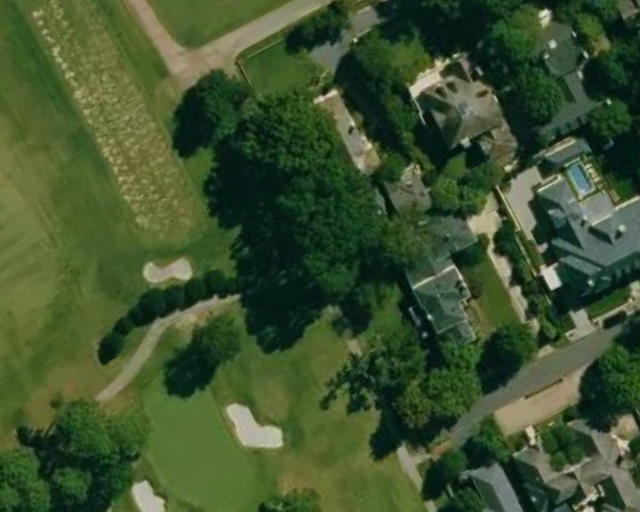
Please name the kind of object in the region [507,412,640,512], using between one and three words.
house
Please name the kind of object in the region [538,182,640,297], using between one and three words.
house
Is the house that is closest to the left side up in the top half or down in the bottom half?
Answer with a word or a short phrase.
top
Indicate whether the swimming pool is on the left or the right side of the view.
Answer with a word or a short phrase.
right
